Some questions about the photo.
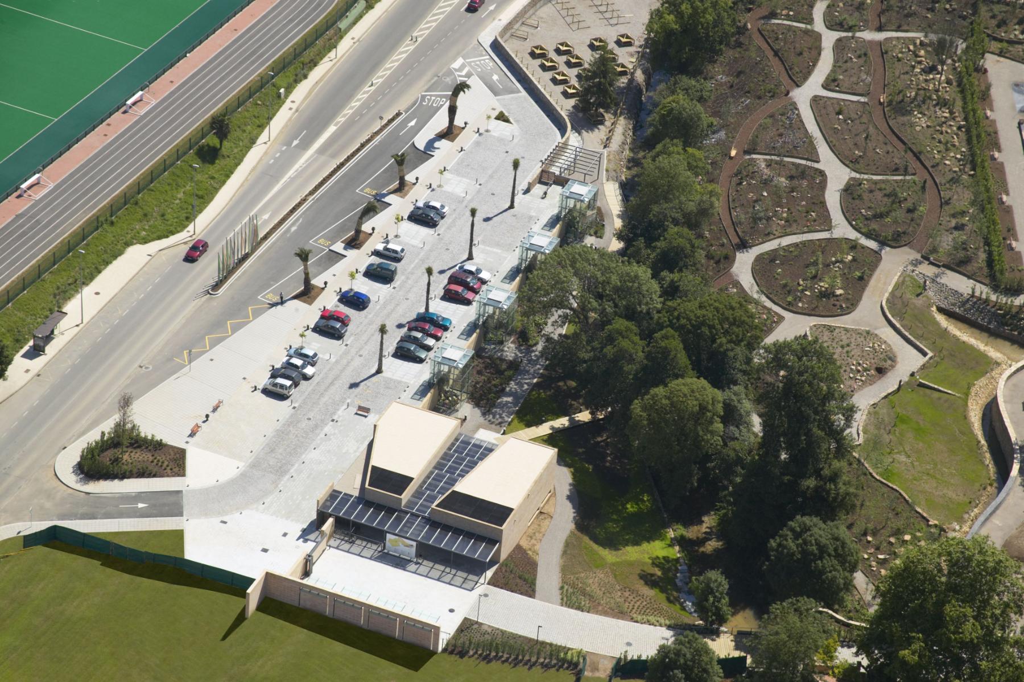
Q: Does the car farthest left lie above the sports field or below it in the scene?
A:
below it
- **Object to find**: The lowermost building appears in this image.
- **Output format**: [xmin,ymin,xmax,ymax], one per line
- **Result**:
[316,400,557,584]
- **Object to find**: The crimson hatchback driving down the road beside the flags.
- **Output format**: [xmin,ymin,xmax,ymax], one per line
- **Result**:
[184,237,210,260]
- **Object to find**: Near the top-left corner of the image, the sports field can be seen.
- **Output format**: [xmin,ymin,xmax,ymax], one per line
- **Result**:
[0,0,209,162]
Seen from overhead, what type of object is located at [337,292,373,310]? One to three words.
car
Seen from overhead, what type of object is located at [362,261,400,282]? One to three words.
car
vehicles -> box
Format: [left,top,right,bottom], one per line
[362,261,400,282]
[406,209,443,227]
[406,321,445,341]
[318,309,353,327]
[337,292,373,310]
[279,358,319,379]
[393,340,429,362]
[457,265,493,284]
[311,319,350,339]
[445,269,484,293]
[413,202,450,219]
[285,347,321,366]
[398,330,438,351]
[415,312,453,332]
[373,243,407,262]
[465,0,487,10]
[260,378,297,399]
[442,284,477,304]
[266,367,306,387]
[184,237,210,260]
